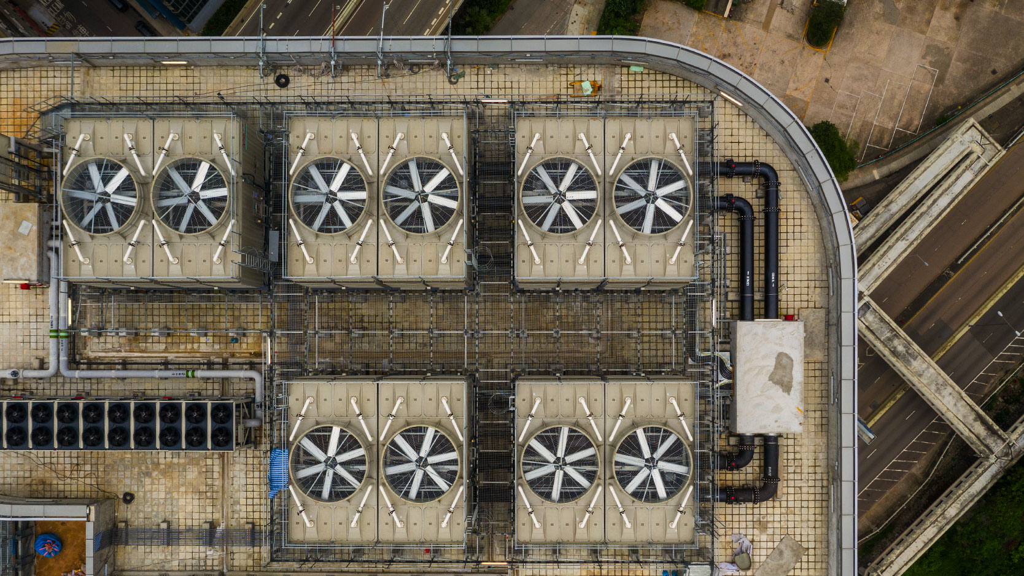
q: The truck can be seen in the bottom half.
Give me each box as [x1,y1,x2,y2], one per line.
[857,411,881,445]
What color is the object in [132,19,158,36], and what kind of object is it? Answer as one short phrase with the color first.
black car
